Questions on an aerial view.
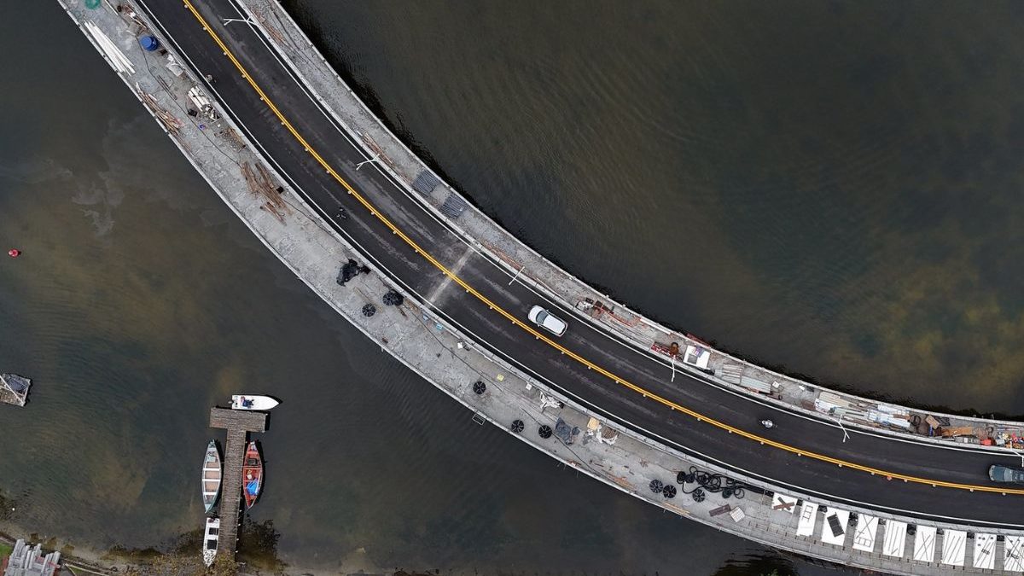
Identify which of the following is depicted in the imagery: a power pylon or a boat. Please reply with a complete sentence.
I can see a boat in this picture.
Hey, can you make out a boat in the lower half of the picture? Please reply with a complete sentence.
Yes, a boat appears in the lower half of the picture.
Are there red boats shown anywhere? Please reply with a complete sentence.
Yes, the photo shows a red boat.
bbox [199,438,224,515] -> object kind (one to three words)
boat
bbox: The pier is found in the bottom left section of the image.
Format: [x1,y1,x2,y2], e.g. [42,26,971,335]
[208,408,267,559]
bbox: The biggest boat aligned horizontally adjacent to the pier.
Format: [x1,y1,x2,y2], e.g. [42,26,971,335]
[227,394,281,410]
